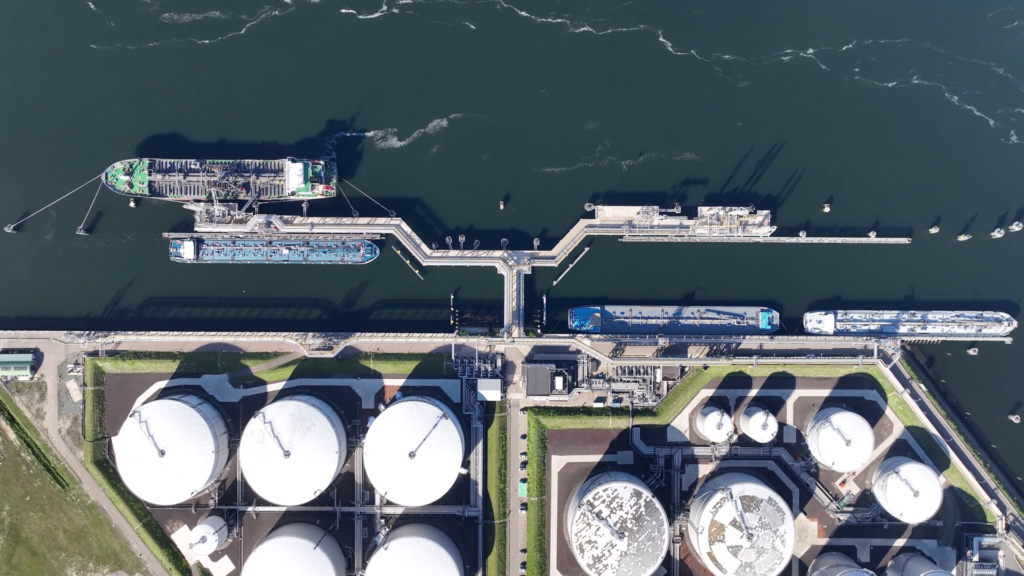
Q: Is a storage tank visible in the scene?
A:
Yes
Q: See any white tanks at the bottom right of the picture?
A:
Yes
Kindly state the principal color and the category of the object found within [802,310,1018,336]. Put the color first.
white ship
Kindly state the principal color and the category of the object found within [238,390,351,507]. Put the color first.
white storage tank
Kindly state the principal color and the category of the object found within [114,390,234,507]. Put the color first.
white storage tank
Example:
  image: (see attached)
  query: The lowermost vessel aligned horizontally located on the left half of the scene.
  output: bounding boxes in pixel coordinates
[170,239,380,264]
